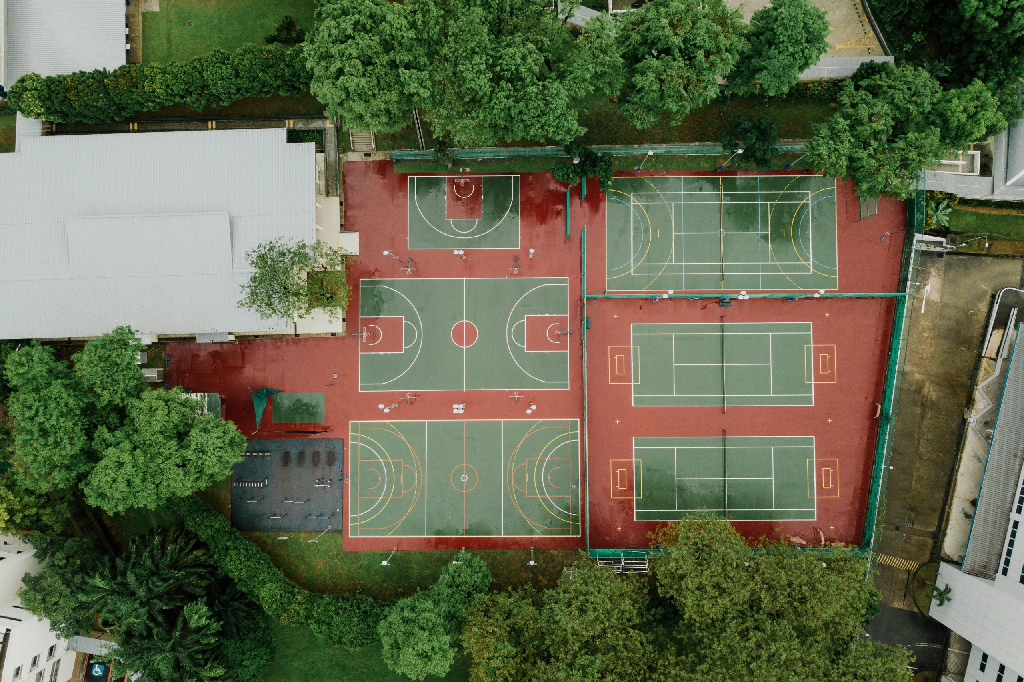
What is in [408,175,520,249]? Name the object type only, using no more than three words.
basketball court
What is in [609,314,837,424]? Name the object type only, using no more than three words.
tennis court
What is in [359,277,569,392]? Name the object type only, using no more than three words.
basketball court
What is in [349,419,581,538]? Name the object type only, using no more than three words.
sports court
